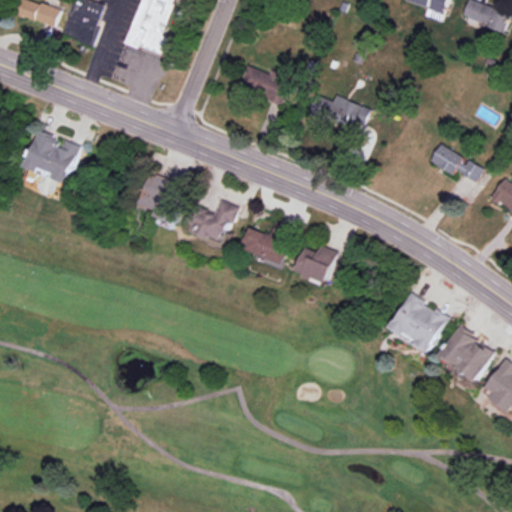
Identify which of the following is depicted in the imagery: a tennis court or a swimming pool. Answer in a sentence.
It is a swimming pool that can be seen here.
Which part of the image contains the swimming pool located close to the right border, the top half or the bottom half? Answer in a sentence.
You can find the swimming pool located close to the right border in the top half.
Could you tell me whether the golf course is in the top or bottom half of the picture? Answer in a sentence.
The golf course sits in the bottom half of the picture.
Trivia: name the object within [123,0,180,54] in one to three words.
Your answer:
building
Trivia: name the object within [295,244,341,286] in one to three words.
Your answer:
house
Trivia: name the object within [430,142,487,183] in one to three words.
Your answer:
house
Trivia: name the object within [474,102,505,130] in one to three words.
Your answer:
swimming pool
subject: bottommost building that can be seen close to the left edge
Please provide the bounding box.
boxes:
[23,132,84,201]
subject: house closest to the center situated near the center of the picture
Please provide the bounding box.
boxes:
[242,227,292,270]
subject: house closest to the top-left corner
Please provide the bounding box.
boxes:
[14,0,64,28]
